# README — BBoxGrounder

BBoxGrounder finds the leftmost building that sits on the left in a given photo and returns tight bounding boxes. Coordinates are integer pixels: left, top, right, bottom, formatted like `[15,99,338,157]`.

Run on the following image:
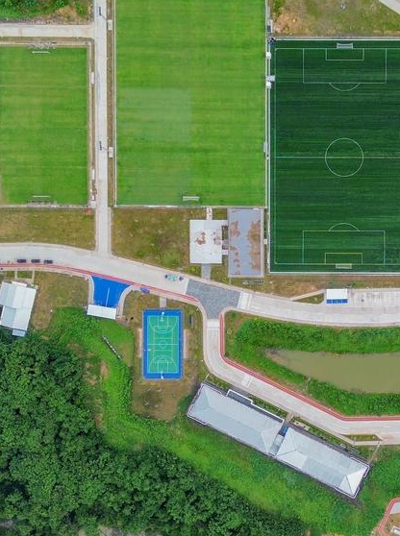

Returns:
[0,281,38,337]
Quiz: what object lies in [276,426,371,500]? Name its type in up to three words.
house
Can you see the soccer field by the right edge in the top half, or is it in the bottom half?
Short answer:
top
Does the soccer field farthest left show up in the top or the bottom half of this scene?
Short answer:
top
